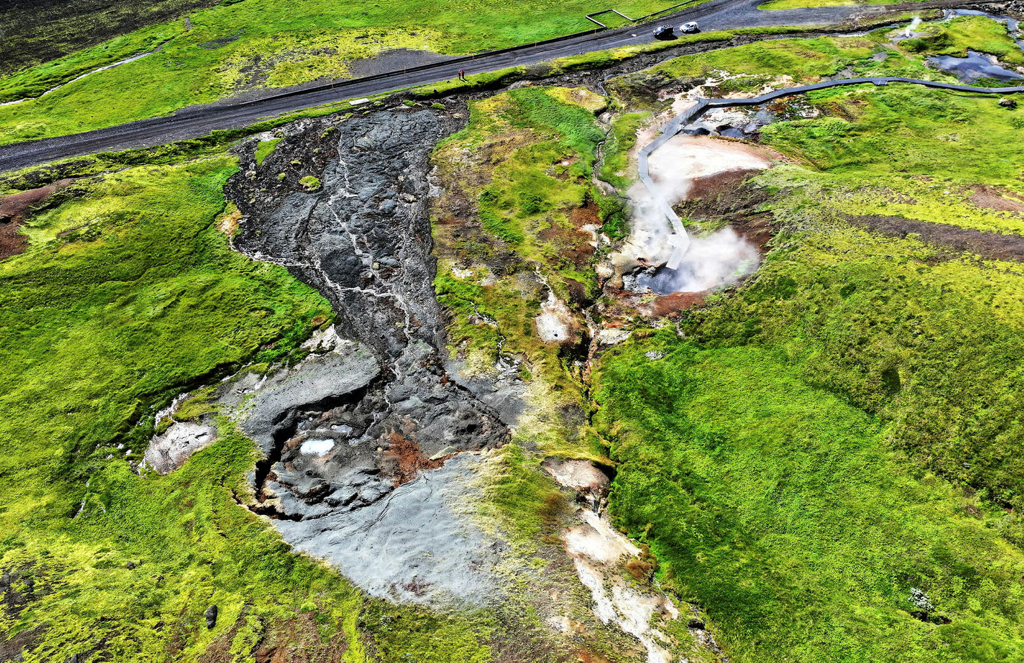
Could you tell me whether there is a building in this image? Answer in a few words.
No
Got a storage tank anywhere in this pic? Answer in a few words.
No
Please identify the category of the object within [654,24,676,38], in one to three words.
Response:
car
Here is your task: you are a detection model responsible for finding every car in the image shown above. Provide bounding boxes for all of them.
[654,24,676,38]
[680,22,701,33]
